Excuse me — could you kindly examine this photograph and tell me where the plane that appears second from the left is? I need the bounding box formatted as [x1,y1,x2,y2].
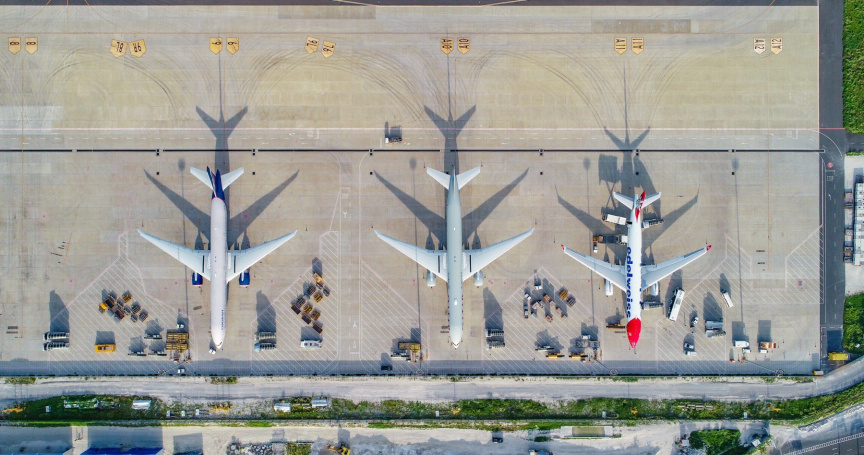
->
[375,169,534,349]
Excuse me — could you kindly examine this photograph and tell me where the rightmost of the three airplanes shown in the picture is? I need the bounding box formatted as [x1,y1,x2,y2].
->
[561,191,715,348]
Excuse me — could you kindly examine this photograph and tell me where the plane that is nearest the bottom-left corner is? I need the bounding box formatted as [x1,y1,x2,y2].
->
[136,167,295,349]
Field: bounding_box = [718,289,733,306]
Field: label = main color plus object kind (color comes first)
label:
white vehicle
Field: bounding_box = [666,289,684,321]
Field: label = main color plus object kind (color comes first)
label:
white vehicle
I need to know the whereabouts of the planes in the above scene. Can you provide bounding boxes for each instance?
[561,191,715,348]
[136,167,295,349]
[375,169,534,349]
